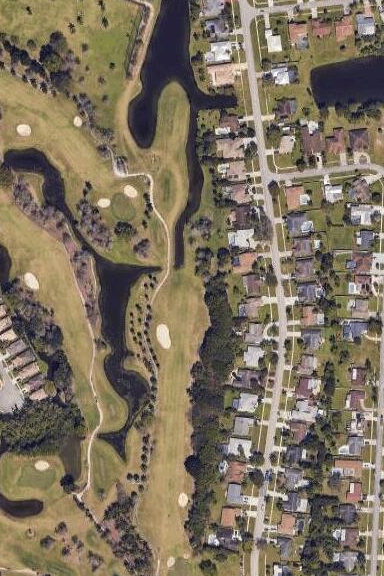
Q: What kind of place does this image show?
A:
golf course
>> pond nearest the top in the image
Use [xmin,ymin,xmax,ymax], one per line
[311,53,384,111]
